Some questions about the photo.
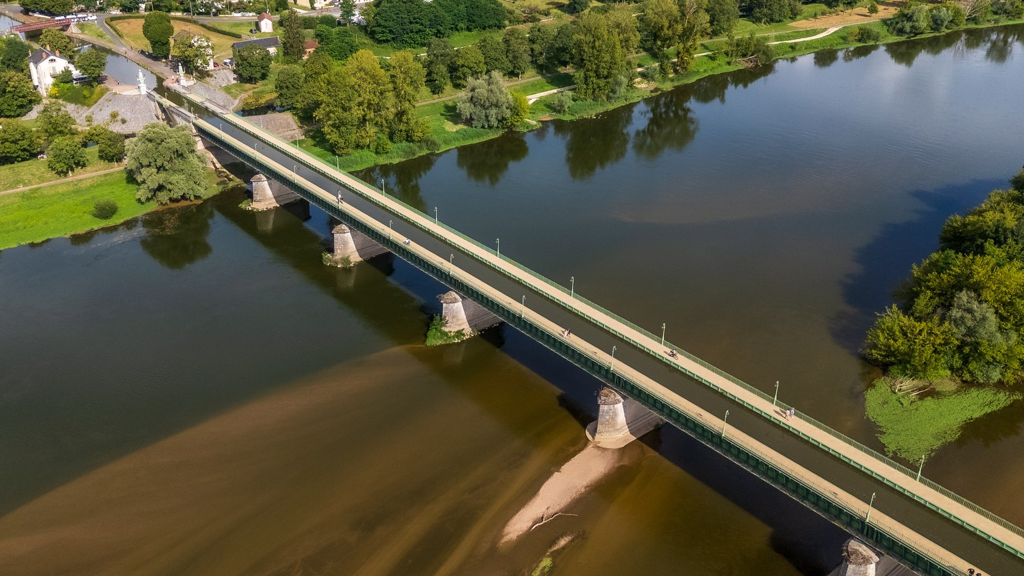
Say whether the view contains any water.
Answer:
Yes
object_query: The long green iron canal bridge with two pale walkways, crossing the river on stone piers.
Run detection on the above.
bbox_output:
[153,88,1024,576]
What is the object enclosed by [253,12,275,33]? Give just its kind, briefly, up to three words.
building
